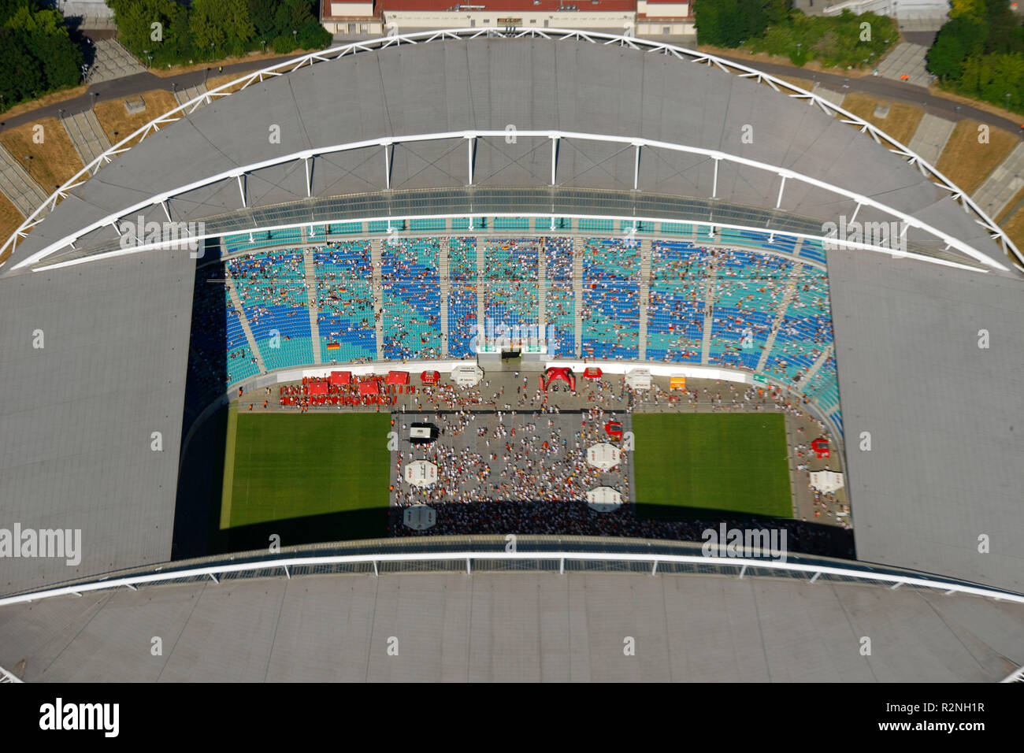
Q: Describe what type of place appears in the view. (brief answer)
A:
sports ground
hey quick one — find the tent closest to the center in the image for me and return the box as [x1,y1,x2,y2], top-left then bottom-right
[540,375,578,400]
